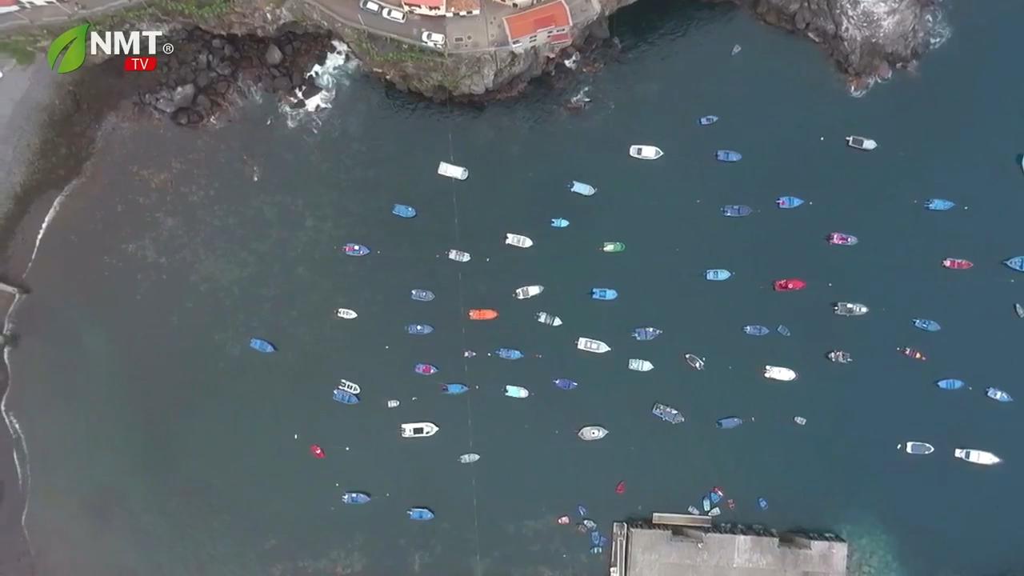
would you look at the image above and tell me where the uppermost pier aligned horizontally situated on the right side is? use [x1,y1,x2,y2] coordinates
[652,511,711,527]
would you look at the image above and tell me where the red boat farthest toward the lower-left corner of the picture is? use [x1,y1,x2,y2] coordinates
[310,443,324,457]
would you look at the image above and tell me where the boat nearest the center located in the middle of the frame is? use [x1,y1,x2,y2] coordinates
[510,287,543,300]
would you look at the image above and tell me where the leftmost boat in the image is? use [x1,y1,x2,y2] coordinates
[247,337,274,351]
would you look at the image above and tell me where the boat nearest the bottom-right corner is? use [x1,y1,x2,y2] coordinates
[953,450,1006,466]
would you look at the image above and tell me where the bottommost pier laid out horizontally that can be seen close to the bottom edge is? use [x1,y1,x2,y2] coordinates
[626,521,847,576]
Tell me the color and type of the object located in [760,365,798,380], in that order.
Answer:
white boat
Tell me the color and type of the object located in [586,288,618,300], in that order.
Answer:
blue boat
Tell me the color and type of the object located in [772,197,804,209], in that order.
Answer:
blue boat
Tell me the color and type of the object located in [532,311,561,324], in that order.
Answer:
white boat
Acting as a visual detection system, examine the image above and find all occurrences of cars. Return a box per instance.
[421,29,445,43]
[380,6,406,23]
[357,0,382,14]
